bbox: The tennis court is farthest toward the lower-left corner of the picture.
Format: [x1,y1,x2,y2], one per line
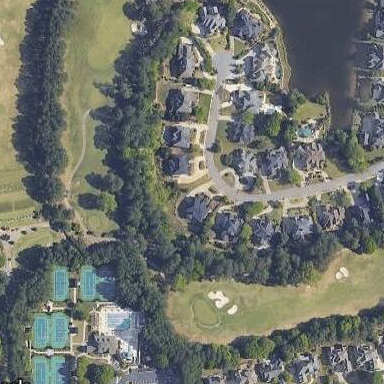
[34,356,52,384]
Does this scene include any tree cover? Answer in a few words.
Yes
